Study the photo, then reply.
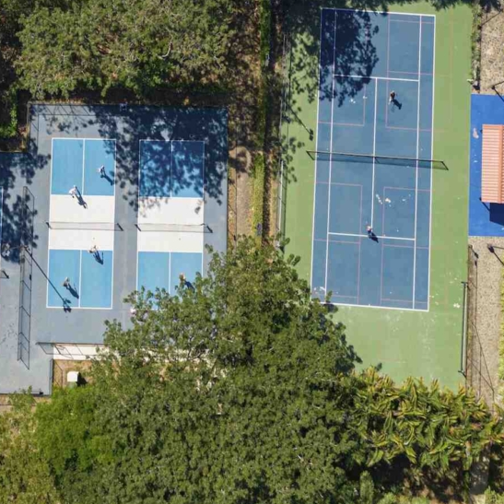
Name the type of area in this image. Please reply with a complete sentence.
This image shows a sports ground.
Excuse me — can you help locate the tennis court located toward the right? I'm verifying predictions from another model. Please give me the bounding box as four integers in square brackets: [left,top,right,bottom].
[275,0,477,409]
